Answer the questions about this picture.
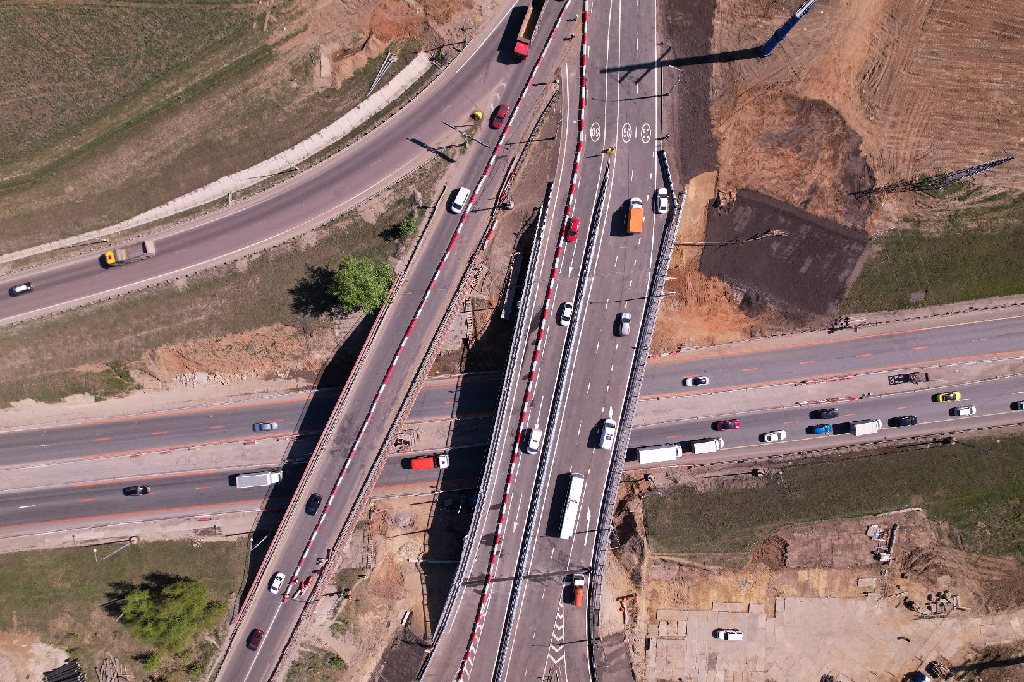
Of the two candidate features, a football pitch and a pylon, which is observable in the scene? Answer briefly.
pylon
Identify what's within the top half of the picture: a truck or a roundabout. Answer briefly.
truck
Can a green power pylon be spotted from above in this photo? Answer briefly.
No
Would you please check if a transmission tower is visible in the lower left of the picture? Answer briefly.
No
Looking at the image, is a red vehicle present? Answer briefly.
Yes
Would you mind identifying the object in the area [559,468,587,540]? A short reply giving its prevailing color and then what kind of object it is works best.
white bus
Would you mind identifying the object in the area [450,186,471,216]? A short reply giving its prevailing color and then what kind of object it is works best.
white vehicle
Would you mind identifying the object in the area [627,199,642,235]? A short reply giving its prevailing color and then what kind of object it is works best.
orange vehicle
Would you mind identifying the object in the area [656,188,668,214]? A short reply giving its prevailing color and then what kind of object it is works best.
white vehicle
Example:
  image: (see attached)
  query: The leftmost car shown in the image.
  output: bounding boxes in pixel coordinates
[11,282,35,294]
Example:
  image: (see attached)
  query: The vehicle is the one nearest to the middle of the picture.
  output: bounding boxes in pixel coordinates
[561,301,573,327]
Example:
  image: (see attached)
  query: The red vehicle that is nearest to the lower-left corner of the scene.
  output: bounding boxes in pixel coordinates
[248,626,264,650]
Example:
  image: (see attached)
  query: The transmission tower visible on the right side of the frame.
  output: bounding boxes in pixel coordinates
[932,152,1018,189]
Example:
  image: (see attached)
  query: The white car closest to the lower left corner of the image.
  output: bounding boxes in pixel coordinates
[269,569,286,595]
